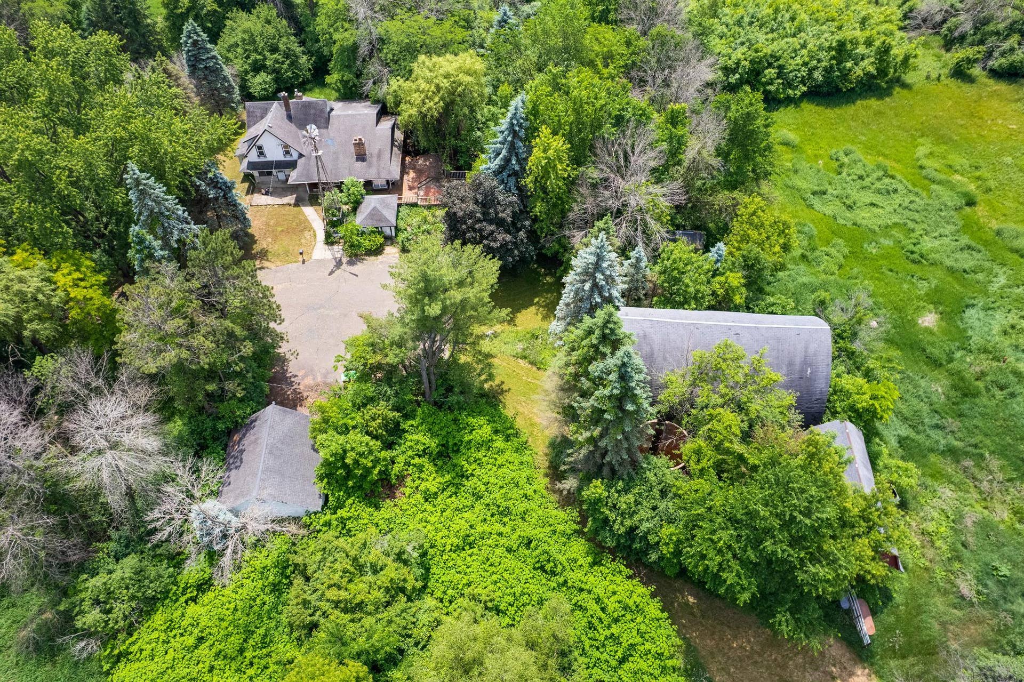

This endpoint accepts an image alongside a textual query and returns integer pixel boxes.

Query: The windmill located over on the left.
[299,123,347,240]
